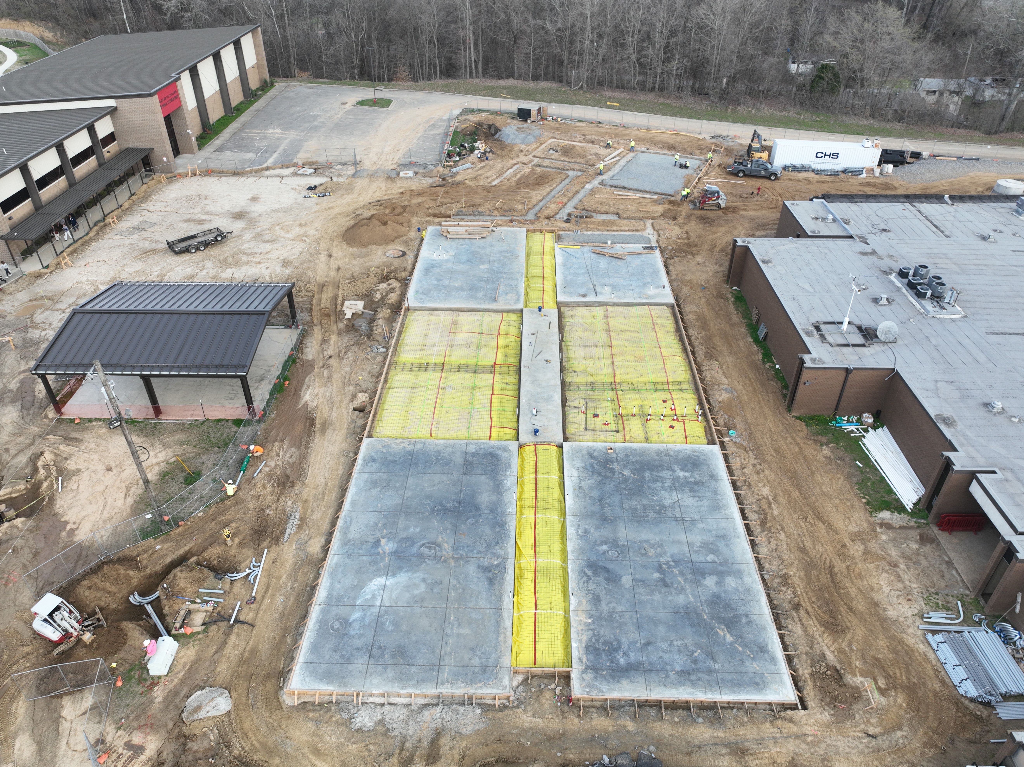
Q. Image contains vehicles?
Yes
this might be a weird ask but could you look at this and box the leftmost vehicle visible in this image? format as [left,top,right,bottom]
[21,596,106,662]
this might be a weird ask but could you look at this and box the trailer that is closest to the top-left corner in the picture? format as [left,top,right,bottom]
[162,225,231,248]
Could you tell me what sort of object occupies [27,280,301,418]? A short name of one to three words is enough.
building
